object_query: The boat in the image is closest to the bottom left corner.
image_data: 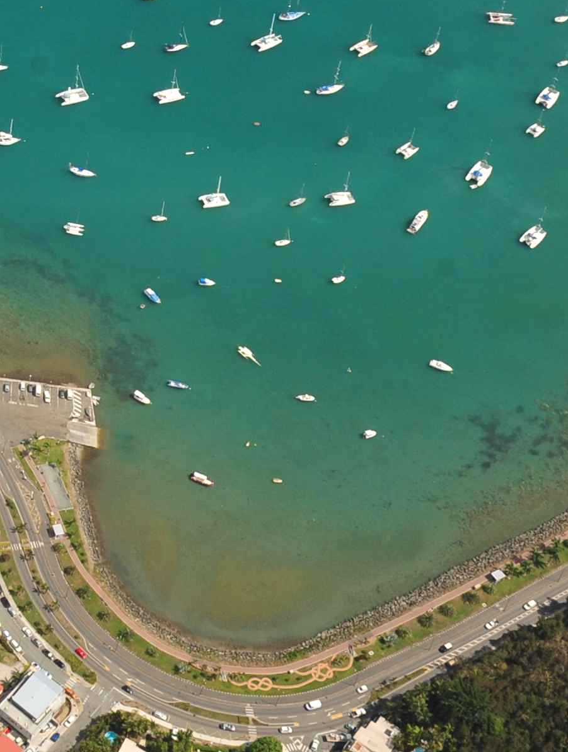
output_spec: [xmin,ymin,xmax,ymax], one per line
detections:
[189,472,214,485]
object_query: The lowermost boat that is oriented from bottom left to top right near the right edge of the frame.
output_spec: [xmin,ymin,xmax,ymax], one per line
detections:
[519,207,547,250]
